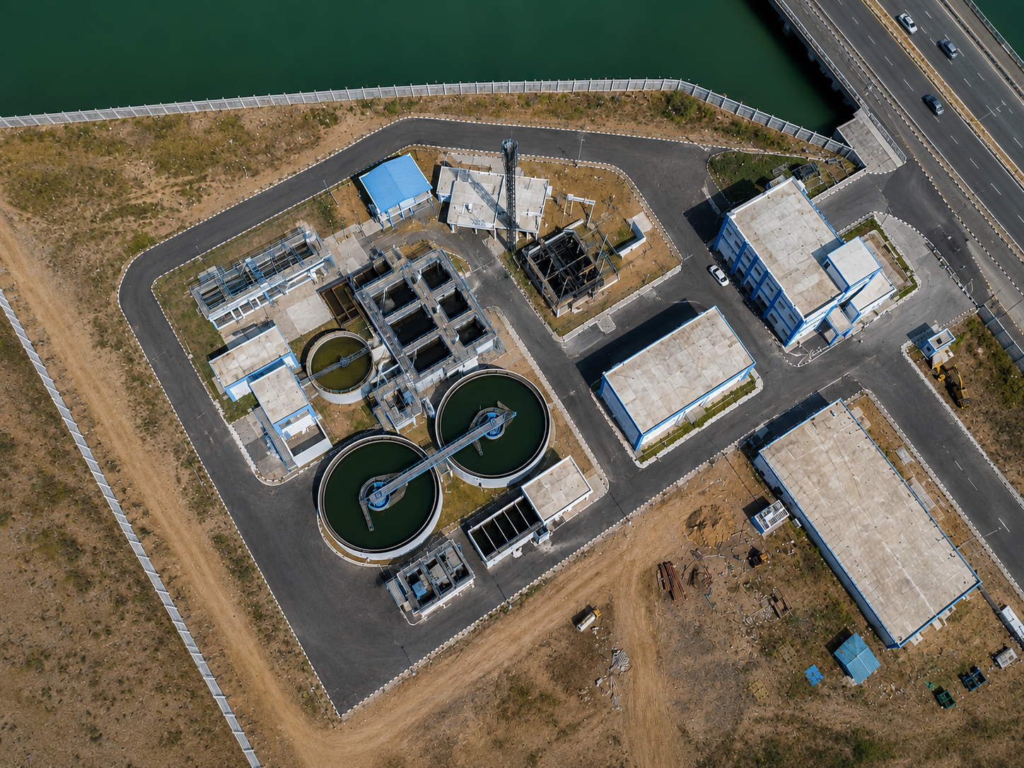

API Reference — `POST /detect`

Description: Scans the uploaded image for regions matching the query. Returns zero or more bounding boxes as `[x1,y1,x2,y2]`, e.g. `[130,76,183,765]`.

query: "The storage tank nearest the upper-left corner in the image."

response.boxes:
[305,332,377,401]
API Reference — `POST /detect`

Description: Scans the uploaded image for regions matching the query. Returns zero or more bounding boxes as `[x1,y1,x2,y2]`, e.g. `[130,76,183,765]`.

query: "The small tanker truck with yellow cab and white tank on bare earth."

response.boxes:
[573,604,604,633]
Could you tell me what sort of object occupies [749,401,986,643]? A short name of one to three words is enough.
warehouse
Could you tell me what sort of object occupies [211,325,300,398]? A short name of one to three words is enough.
house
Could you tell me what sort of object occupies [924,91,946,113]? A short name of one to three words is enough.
car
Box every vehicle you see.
[940,35,960,57]
[924,91,946,113]
[707,261,730,286]
[945,365,980,410]
[899,11,919,32]
[747,549,772,569]
[573,604,604,633]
